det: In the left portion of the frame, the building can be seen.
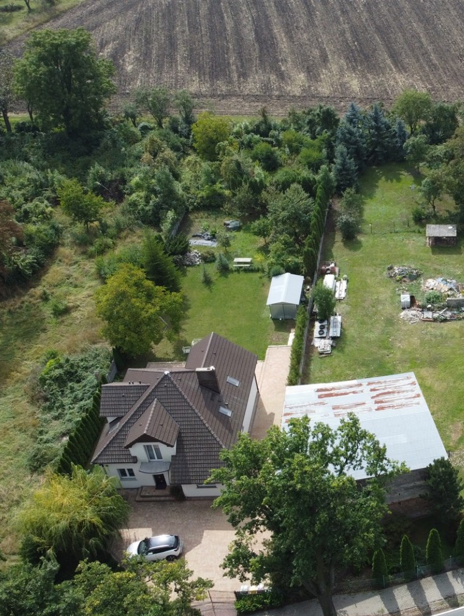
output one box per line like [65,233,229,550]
[87,330,259,510]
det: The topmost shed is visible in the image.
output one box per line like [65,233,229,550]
[427,225,456,248]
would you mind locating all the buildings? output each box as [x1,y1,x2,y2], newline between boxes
[87,330,259,510]
[281,372,445,524]
[427,225,456,248]
[266,271,303,318]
